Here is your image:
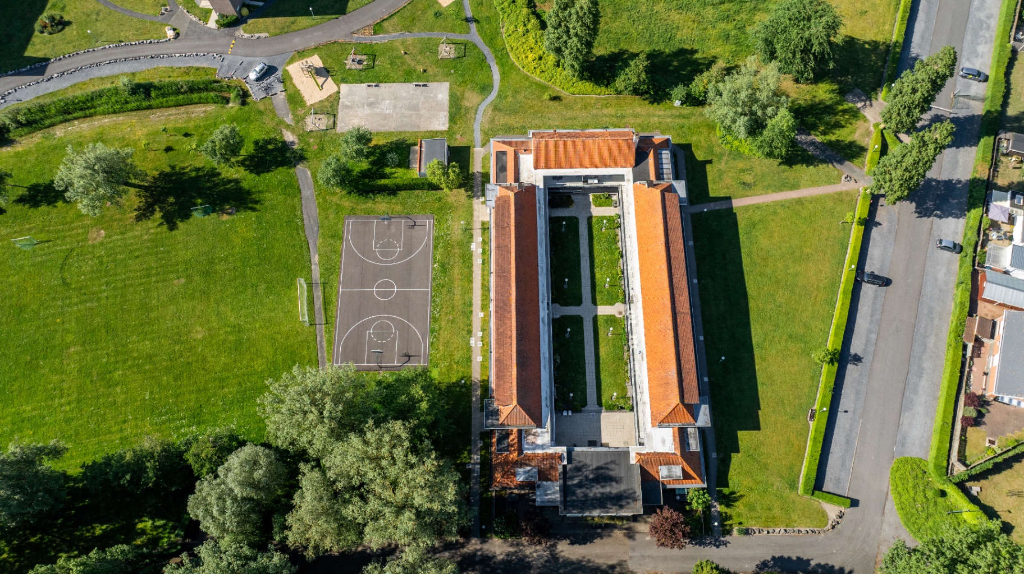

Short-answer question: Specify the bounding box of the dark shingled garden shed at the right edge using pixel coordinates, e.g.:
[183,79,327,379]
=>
[995,130,1024,160]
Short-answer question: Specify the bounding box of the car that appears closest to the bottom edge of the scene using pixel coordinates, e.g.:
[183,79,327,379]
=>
[857,271,886,287]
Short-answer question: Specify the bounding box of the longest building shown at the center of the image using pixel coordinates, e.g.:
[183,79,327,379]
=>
[483,127,709,518]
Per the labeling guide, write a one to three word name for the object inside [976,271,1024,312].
building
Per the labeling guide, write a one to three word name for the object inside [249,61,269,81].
car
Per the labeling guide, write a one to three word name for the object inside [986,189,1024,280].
house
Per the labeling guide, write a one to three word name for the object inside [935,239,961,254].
car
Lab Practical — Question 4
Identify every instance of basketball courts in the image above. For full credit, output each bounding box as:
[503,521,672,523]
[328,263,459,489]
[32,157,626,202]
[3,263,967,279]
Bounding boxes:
[331,216,435,371]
